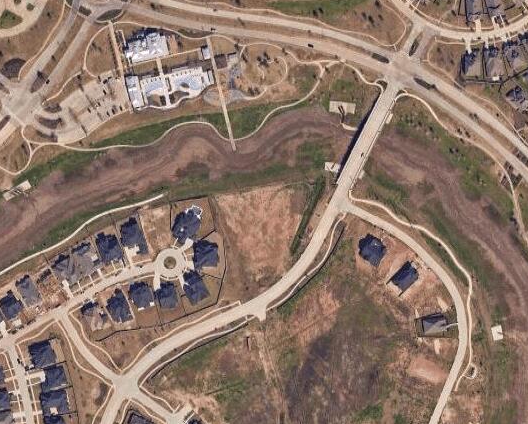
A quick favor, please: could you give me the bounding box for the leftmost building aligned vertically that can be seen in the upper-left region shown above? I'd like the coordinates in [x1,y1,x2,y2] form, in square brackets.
[126,77,142,108]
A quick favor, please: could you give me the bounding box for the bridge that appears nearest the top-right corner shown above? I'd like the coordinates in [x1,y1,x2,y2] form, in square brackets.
[339,90,398,200]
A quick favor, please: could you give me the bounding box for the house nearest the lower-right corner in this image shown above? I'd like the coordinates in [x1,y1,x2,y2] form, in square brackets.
[421,312,450,337]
